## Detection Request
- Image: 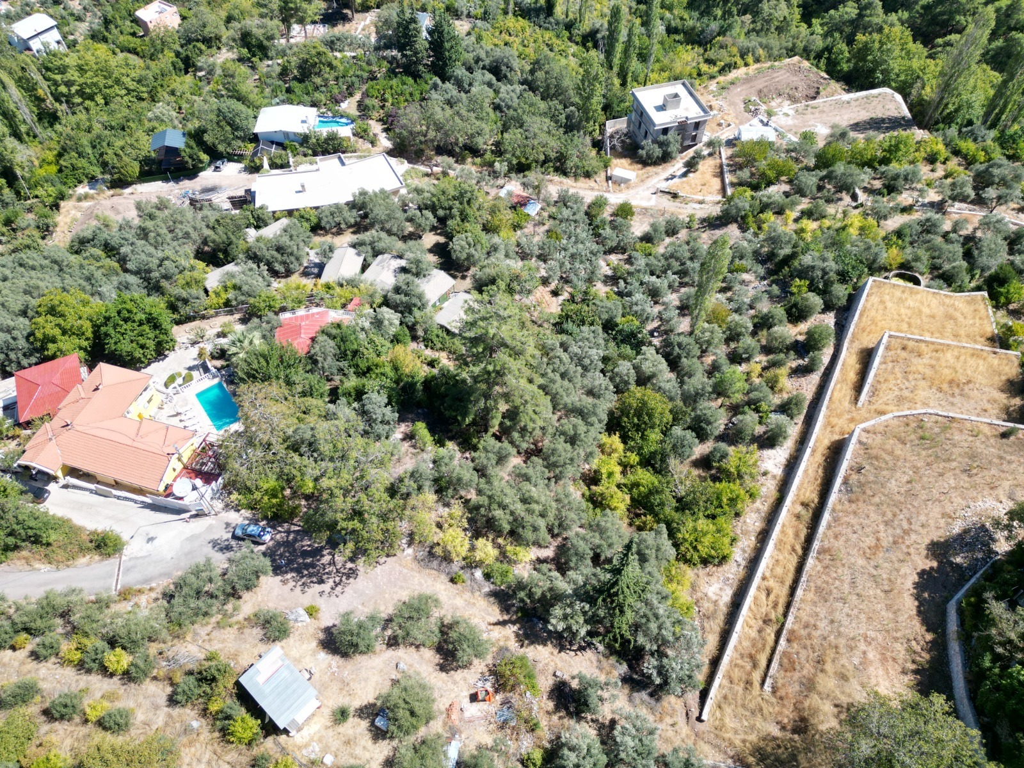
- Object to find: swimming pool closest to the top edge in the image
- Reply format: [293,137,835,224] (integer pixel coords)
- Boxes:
[314,113,358,147]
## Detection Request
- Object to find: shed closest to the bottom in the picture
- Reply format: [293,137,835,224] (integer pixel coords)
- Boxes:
[239,645,320,733]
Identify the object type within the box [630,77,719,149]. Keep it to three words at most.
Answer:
house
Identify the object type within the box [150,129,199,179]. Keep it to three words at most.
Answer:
building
